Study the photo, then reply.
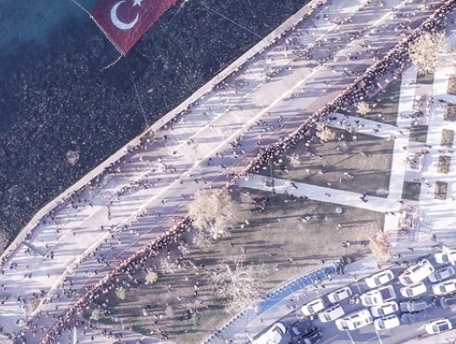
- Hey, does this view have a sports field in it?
No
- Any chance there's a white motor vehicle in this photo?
Yes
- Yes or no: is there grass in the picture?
Yes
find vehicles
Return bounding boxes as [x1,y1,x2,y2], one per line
[432,247,456,264]
[316,302,345,323]
[326,284,352,304]
[360,284,399,306]
[430,277,456,294]
[298,295,327,318]
[398,297,427,311]
[400,309,427,321]
[299,326,325,344]
[426,263,455,282]
[364,267,394,287]
[423,317,453,334]
[333,305,374,330]
[398,279,429,298]
[394,254,438,287]
[244,313,286,344]
[286,316,314,337]
[429,289,456,309]
[372,312,402,330]
[369,300,398,316]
